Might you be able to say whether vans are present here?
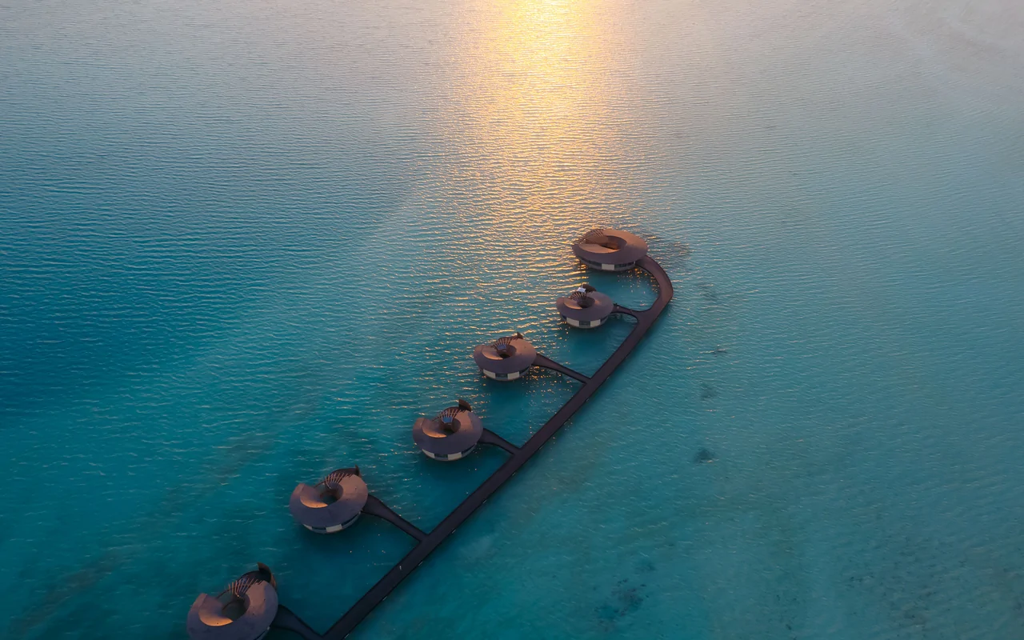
No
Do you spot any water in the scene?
Yes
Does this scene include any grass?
No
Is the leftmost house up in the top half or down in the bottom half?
bottom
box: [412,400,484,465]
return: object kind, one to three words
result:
house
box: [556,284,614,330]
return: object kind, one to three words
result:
house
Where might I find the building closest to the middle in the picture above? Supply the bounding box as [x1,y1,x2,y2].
[473,333,537,383]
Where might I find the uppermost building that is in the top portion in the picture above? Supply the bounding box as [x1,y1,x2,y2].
[572,232,648,272]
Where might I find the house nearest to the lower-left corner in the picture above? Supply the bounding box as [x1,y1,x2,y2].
[183,566,280,640]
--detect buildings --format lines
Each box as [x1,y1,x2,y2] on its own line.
[183,566,280,640]
[412,400,484,465]
[572,232,648,272]
[473,333,537,383]
[556,284,614,330]
[288,465,369,537]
